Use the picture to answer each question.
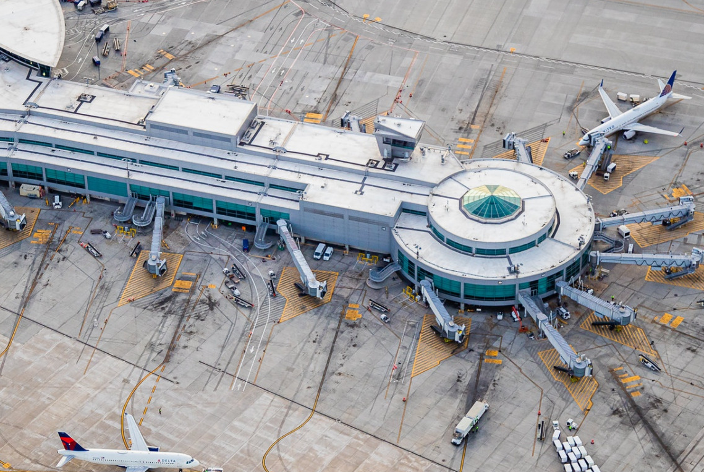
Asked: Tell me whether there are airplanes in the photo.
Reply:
Yes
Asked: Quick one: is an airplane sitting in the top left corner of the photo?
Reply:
No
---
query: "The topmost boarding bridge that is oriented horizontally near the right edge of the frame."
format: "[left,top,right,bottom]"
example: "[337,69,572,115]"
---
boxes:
[595,201,697,244]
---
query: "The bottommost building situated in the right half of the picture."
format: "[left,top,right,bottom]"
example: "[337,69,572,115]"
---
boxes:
[393,161,596,313]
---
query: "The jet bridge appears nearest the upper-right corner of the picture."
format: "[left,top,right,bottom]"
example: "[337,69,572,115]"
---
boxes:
[575,136,612,195]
